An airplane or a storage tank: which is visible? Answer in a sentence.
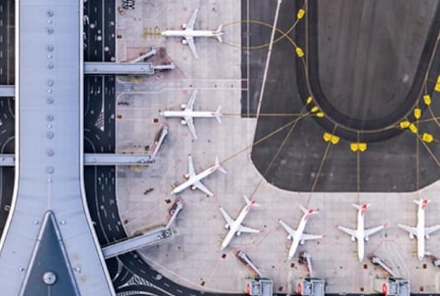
The one in the frame is an airplane.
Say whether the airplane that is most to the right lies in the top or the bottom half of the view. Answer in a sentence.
The airplane that is most to the right sits in the bottom half of the picture.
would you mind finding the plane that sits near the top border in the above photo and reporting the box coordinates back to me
[160,6,224,59]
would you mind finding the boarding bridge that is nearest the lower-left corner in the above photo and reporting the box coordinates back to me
[165,201,182,230]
